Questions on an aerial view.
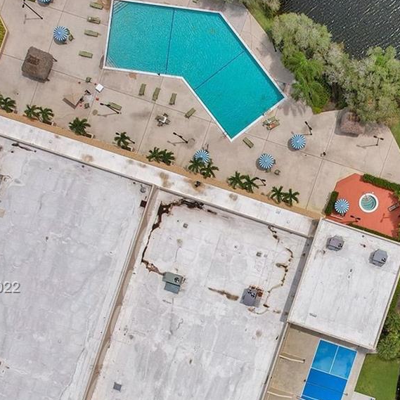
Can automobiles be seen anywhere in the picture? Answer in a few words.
No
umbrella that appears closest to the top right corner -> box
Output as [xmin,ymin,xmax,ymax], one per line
[290,134,307,151]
